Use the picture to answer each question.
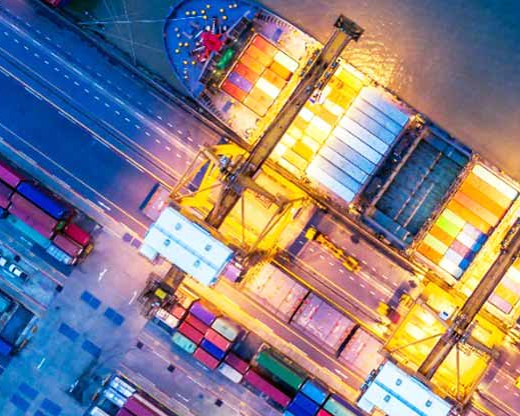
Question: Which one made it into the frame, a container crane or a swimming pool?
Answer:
container crane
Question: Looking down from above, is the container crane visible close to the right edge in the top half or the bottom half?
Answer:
bottom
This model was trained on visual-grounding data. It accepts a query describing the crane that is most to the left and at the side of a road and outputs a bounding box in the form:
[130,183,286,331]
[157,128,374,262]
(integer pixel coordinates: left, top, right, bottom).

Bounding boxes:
[127,4,369,328]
